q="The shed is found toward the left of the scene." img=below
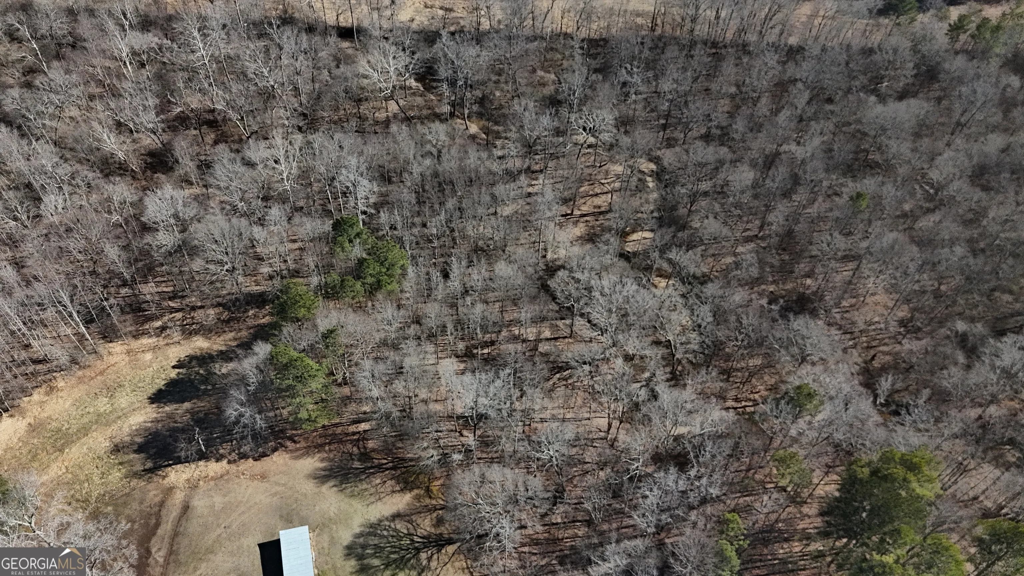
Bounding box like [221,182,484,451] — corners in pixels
[279,525,315,576]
